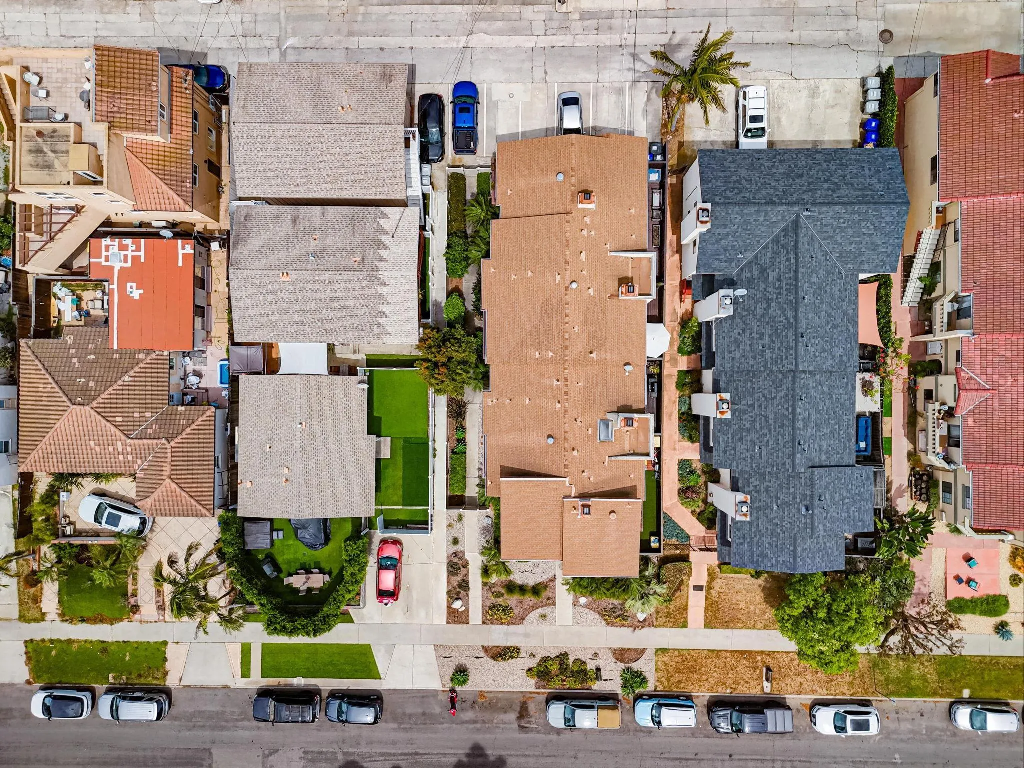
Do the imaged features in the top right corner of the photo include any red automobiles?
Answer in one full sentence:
No, in the top right corner of the photo there is no red automobile.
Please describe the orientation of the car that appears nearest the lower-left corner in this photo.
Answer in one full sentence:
In this picture, the car that appears nearest the lower-left corner lies horizontally.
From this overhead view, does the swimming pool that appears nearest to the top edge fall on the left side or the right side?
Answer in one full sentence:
The swimming pool that appears nearest to the top edge appears in the left half of the scene.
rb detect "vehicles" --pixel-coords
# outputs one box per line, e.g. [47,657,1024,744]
[556,87,586,136]
[33,689,96,721]
[808,702,880,737]
[326,695,384,728]
[374,538,404,605]
[101,690,171,724]
[735,85,768,149]
[547,697,620,731]
[709,702,793,737]
[948,702,1020,735]
[450,82,481,158]
[167,62,232,95]
[634,697,697,730]
[448,687,457,716]
[254,693,322,726]
[81,494,159,537]
[417,94,447,165]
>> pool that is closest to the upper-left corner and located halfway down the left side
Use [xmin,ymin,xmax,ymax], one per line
[215,360,235,388]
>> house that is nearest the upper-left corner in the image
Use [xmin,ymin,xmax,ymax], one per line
[0,44,216,281]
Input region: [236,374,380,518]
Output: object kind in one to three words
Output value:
house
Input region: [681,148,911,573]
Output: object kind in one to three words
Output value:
house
